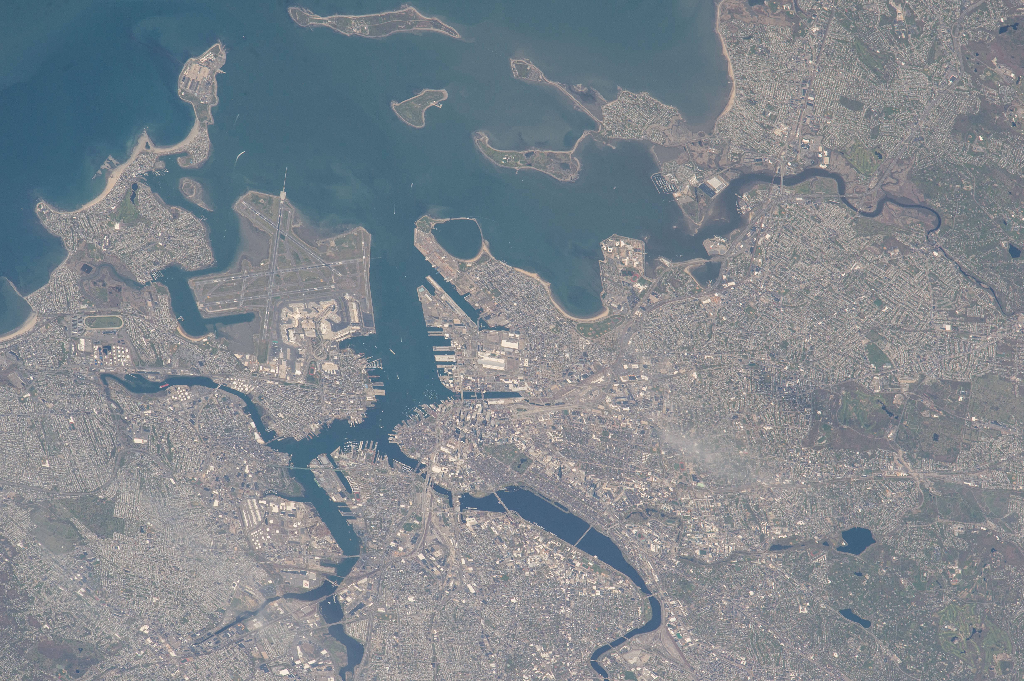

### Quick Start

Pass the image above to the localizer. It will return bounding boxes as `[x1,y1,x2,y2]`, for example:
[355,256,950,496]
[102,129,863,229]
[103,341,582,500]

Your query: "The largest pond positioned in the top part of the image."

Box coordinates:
[431,219,483,259]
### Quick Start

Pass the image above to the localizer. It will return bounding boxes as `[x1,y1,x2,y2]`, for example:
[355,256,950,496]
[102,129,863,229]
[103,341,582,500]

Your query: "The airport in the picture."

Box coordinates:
[194,192,375,372]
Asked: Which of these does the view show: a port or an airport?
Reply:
port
